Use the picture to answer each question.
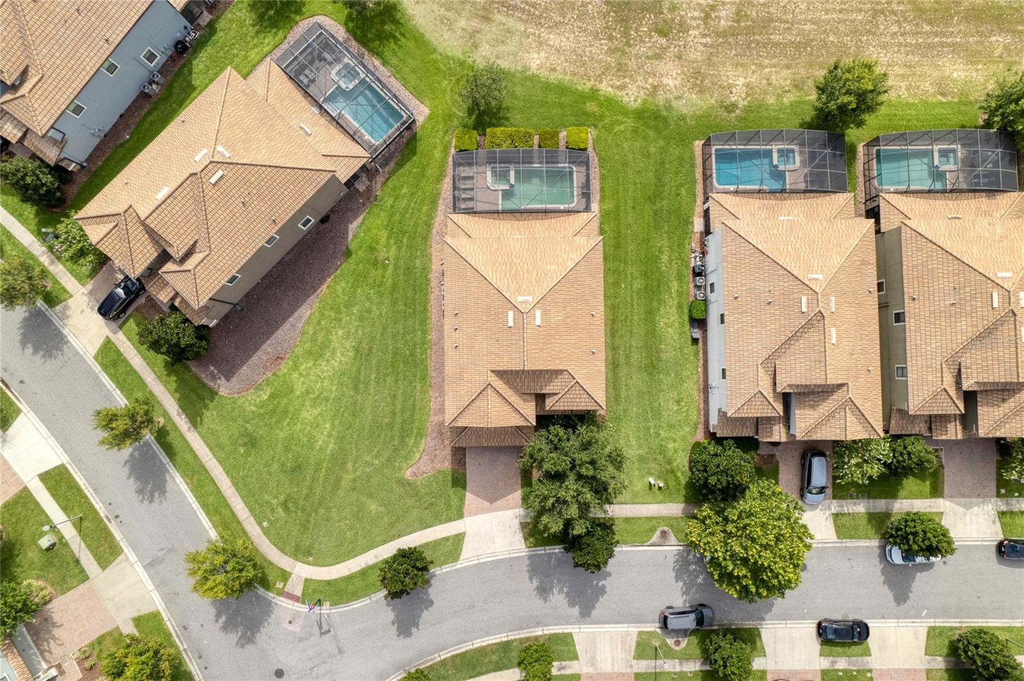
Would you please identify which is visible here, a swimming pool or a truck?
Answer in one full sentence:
Of the two, only a swimming pool appears.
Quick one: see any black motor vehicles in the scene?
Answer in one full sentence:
Yes, a black motor vehicle is visible in the scene.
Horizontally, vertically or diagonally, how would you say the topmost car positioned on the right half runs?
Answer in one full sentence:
The topmost car positioned on the right half is laid out vertically.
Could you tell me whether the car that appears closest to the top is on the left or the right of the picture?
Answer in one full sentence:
It is on the left.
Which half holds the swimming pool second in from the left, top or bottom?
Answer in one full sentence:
Seen from above, the swimming pool second in from the left lies in the top half of the view.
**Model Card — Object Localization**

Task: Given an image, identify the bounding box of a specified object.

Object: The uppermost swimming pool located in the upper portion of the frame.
[319,57,404,143]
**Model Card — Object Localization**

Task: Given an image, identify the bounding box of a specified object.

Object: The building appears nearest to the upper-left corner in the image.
[0,0,209,166]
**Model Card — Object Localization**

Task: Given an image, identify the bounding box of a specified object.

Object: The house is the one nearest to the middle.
[443,212,605,447]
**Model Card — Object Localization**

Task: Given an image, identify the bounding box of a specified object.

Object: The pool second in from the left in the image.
[490,160,577,213]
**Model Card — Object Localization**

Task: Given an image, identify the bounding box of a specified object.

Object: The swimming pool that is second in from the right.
[713,144,800,192]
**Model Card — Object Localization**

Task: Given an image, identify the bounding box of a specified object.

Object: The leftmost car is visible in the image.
[92,275,145,323]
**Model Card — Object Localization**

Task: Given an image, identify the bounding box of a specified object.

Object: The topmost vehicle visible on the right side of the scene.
[801,449,831,505]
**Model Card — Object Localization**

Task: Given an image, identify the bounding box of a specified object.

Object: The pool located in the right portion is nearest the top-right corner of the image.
[878,142,959,190]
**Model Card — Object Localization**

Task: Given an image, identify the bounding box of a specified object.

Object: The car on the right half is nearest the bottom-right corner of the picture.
[1002,538,1024,561]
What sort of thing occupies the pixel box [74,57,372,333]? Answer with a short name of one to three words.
house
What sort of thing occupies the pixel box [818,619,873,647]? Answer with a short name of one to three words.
car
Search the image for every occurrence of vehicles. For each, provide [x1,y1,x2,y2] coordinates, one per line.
[92,275,145,323]
[660,606,716,635]
[1002,538,1024,561]
[887,542,944,567]
[801,449,831,505]
[818,619,873,647]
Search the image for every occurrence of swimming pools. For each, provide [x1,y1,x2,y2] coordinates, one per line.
[490,160,577,213]
[319,57,404,143]
[878,142,959,190]
[713,144,800,192]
